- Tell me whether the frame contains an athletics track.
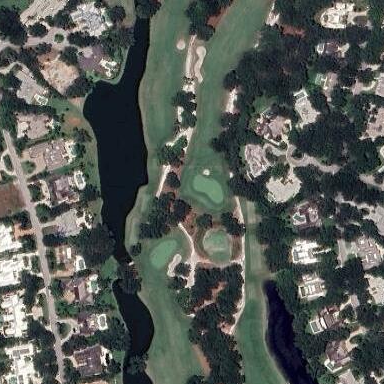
No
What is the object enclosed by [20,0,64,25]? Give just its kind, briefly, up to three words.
house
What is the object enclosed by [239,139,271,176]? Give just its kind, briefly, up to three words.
house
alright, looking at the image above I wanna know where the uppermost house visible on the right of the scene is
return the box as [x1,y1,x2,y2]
[325,1,354,29]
